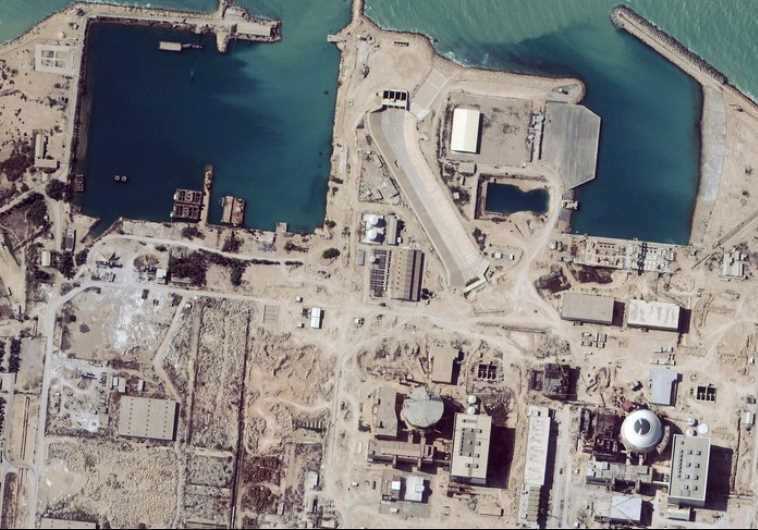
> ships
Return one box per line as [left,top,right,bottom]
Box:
[221,196,232,224]
[158,41,181,50]
[232,198,244,226]
[172,205,201,221]
[175,189,203,204]
[74,175,84,192]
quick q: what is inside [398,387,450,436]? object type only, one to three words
building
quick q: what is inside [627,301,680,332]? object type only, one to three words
building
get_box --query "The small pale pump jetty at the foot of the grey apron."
[560,190,578,235]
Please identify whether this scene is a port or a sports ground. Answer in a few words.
port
